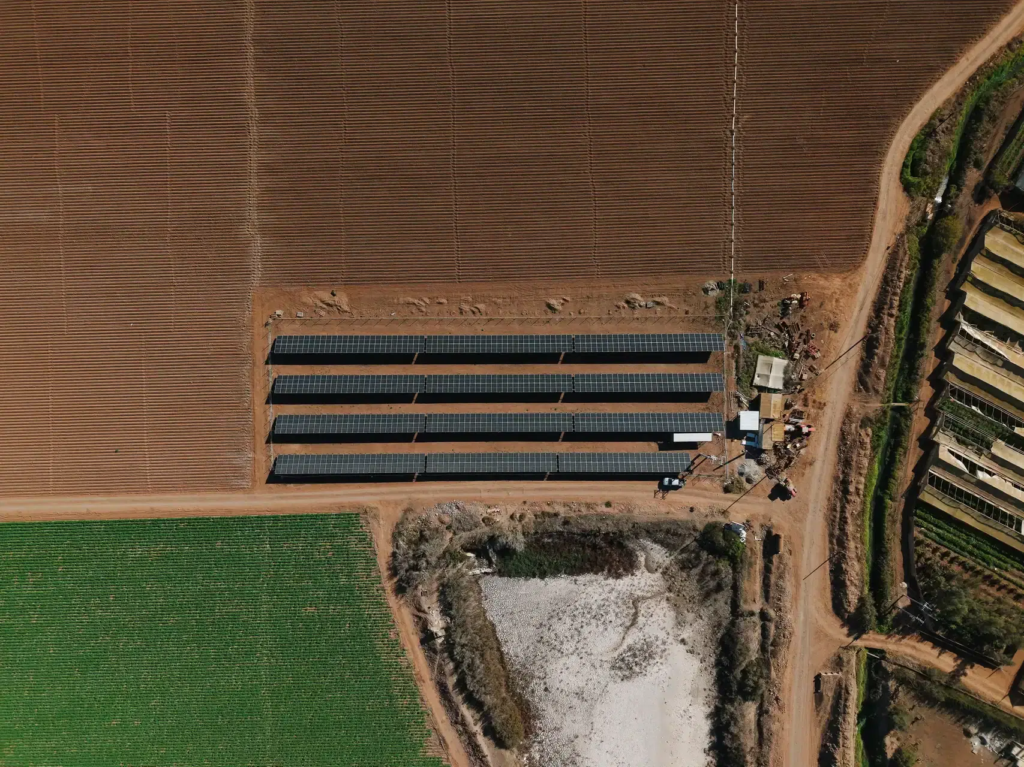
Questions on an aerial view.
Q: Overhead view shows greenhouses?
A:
Yes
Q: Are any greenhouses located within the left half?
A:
No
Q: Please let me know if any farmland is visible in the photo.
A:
Yes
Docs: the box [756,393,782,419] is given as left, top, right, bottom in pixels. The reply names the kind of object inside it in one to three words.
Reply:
shed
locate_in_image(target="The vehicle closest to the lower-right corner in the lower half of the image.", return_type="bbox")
[780,476,797,496]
